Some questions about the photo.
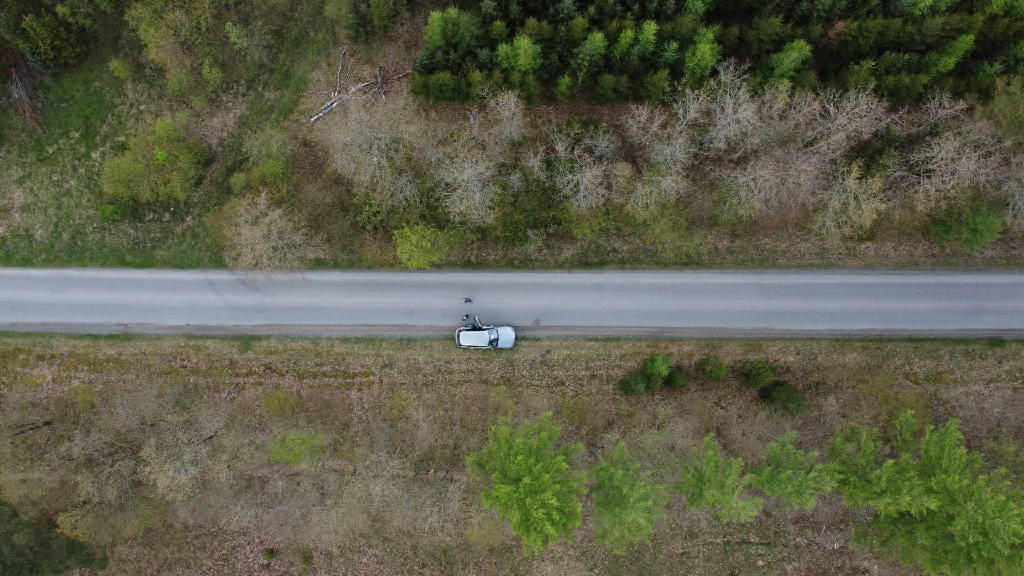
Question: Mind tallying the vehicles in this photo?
1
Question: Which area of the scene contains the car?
center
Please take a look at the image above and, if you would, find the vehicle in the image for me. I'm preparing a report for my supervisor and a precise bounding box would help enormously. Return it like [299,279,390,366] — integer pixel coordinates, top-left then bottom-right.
[456,318,515,353]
